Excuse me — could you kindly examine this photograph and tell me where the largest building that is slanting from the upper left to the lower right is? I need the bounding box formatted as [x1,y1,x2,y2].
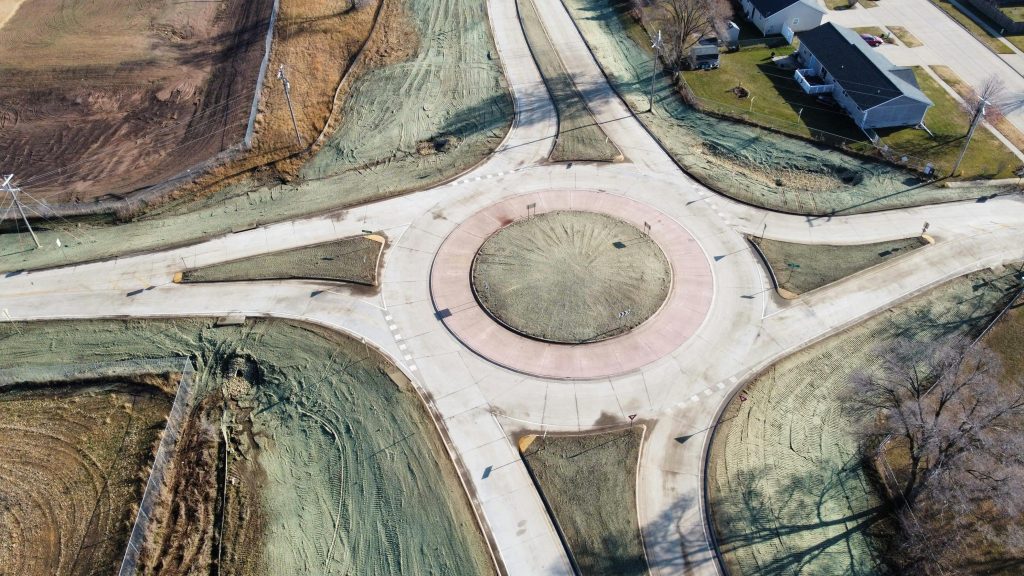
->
[792,15,937,134]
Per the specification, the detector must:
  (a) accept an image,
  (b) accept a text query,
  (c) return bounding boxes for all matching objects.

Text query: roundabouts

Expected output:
[331,163,807,451]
